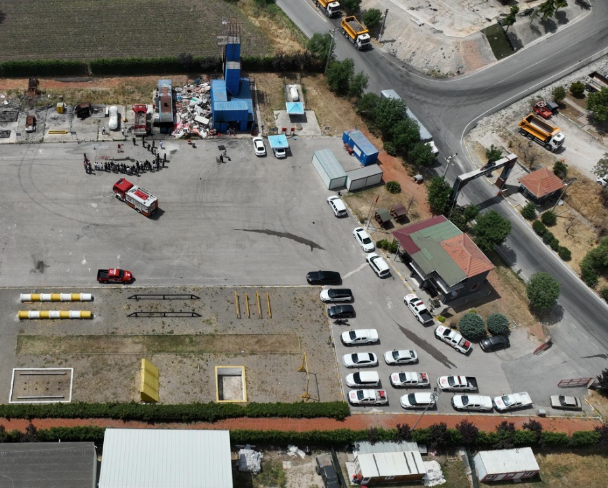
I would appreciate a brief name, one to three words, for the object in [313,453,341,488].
truck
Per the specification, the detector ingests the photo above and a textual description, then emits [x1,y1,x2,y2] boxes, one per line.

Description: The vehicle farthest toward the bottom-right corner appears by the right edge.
[546,397,583,411]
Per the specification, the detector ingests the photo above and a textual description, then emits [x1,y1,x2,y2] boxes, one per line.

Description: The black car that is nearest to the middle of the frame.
[308,270,341,287]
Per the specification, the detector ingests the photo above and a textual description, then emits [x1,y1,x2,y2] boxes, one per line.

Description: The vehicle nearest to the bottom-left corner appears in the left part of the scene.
[98,269,134,285]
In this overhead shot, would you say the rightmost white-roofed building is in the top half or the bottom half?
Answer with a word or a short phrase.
bottom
